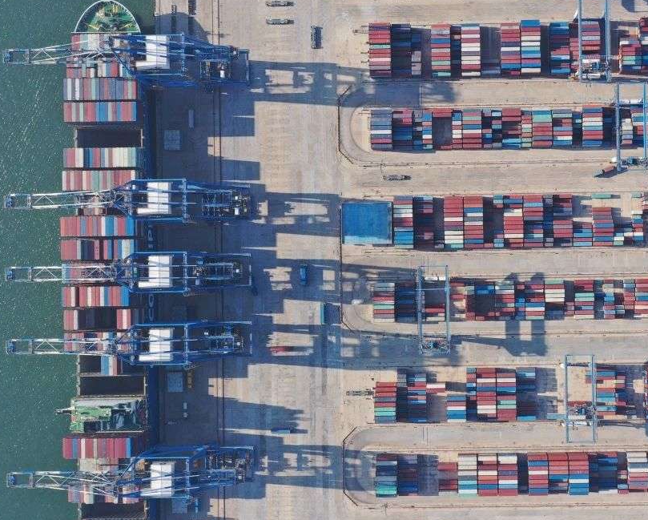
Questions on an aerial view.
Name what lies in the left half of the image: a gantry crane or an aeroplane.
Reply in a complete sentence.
Visible in the left half of the image is a gantry crane.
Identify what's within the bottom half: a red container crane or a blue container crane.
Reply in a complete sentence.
Visible within the bottom half is a blue container crane.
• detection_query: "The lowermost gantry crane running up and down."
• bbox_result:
[558,355,598,443]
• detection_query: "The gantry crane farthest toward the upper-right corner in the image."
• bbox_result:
[570,0,611,83]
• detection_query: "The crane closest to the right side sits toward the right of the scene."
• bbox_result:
[607,82,648,170]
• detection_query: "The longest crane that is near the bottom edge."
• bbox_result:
[6,433,255,501]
